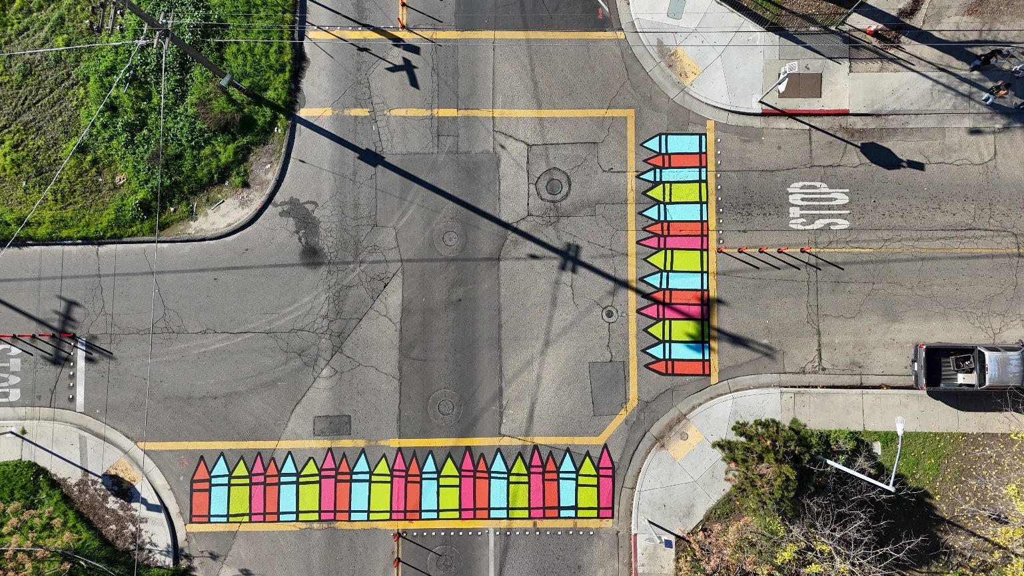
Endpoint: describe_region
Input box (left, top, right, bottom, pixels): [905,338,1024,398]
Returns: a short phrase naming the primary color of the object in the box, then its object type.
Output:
gray truck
